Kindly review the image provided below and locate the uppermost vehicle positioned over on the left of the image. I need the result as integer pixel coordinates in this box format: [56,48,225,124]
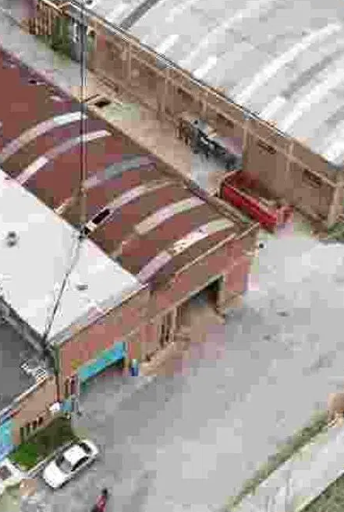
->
[39,429,100,482]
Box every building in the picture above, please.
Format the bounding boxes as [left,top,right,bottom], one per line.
[62,0,344,233]
[0,43,258,419]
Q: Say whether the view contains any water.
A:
No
